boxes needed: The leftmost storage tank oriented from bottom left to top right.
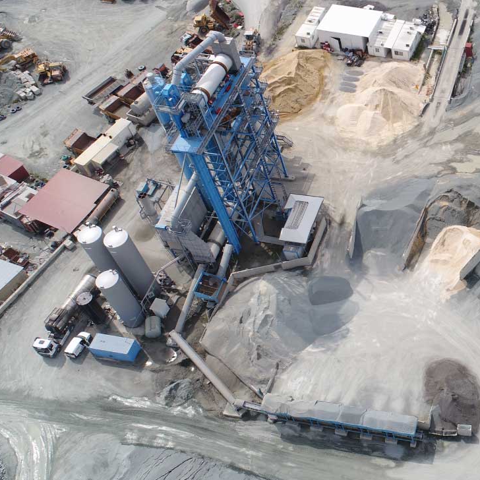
[92,188,129,227]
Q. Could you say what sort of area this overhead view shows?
industrial area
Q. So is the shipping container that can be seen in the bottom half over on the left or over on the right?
left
